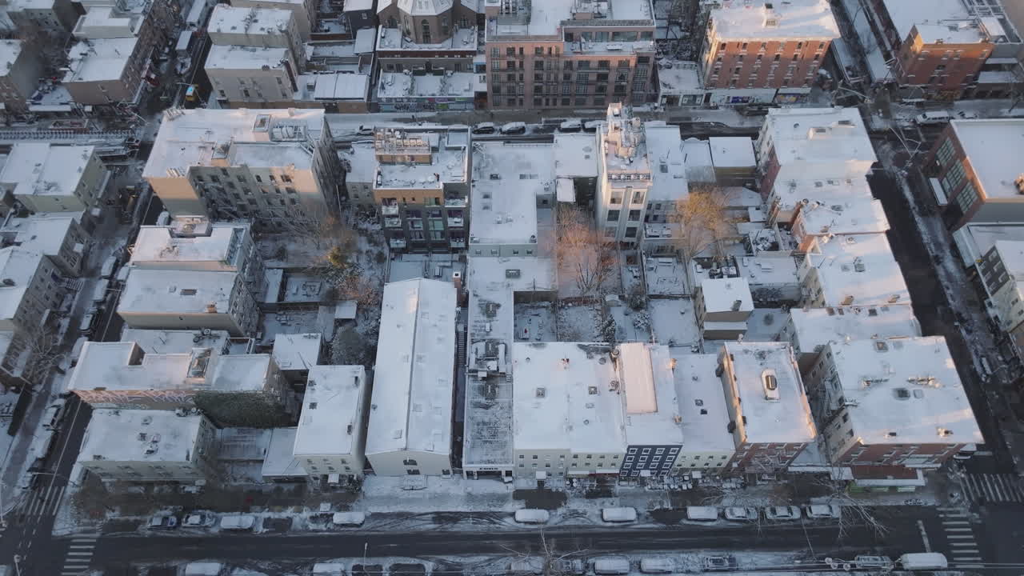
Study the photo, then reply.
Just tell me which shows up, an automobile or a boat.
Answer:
automobile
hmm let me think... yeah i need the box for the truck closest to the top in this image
[185,0,212,35]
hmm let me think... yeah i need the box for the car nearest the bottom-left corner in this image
[33,433,57,465]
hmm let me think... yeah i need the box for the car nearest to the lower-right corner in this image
[902,552,946,571]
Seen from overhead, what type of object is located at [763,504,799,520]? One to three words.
car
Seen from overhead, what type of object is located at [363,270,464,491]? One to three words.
building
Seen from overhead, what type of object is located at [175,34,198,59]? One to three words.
truck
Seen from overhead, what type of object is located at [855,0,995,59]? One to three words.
building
